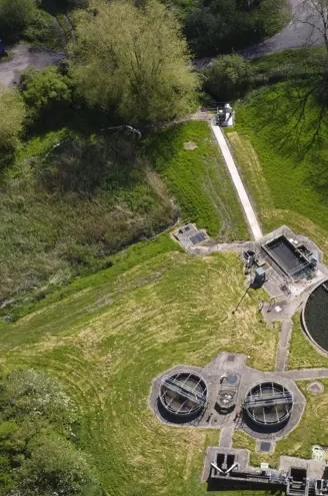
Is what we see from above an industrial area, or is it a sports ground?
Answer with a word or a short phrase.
industrial area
